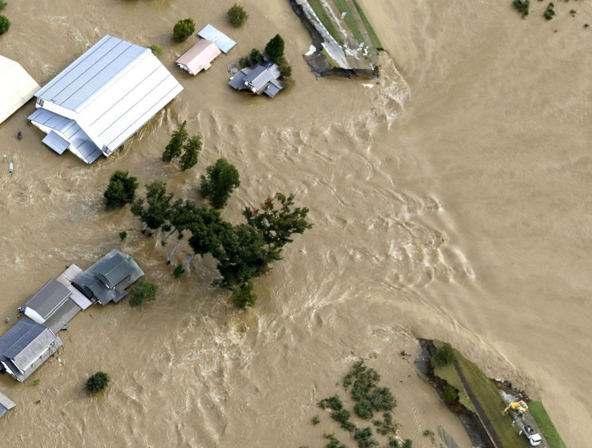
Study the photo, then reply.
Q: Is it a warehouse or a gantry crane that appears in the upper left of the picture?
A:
warehouse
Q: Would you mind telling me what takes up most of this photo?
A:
water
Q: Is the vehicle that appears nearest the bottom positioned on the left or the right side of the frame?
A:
right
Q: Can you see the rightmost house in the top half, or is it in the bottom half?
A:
top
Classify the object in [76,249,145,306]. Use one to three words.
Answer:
building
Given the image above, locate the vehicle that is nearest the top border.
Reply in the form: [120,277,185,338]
[499,399,537,422]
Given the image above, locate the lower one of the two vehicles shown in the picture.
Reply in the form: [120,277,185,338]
[523,422,543,445]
